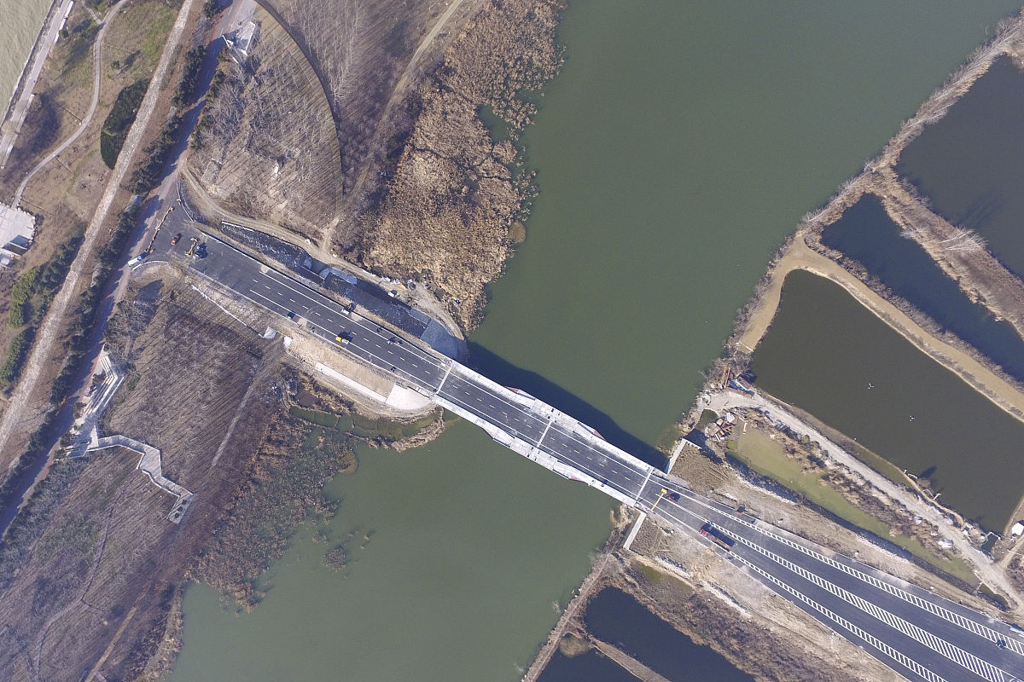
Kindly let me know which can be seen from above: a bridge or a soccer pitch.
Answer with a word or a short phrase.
bridge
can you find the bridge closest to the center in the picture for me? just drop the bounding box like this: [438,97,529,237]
[428,358,655,508]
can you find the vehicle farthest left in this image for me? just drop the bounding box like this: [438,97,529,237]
[123,254,141,266]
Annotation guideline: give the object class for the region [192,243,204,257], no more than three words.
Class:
vehicle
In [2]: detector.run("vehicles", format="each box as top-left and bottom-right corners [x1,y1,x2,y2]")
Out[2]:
[996,640,1008,649]
[385,338,395,346]
[170,233,180,245]
[192,243,204,257]
[340,307,350,315]
[734,510,744,517]
[667,492,679,501]
[395,340,403,347]
[701,528,736,550]
[284,312,295,320]
[333,335,348,345]
[123,254,141,266]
